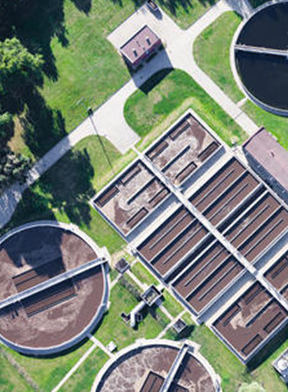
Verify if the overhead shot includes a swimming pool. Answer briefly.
No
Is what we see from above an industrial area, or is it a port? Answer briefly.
industrial area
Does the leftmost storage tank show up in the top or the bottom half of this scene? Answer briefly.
bottom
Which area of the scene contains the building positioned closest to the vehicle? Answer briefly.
top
